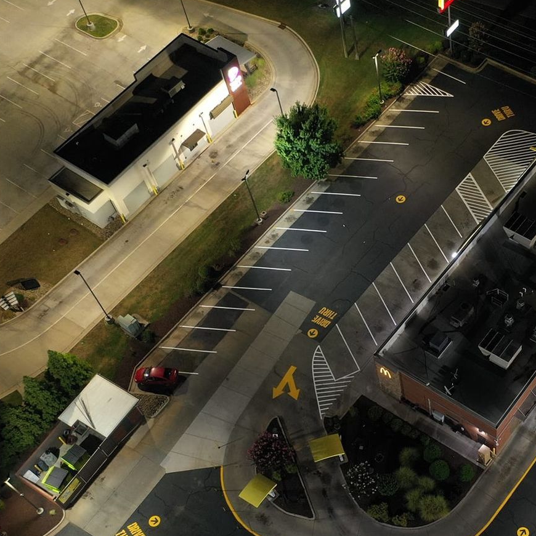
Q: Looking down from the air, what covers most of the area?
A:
paved ground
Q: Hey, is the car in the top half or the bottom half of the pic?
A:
bottom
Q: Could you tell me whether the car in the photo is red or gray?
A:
red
